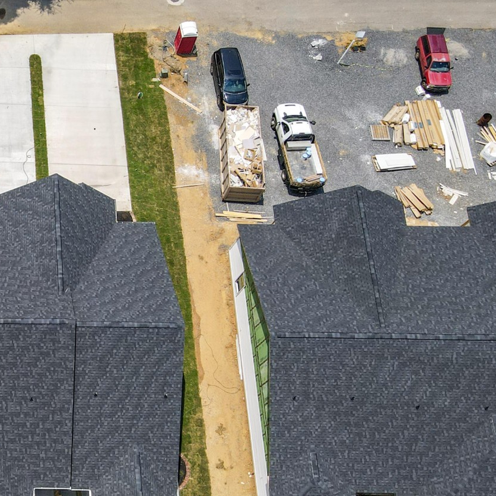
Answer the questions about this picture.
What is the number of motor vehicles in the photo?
3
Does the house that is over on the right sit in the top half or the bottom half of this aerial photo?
bottom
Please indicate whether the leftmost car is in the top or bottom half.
top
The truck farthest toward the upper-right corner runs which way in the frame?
vertically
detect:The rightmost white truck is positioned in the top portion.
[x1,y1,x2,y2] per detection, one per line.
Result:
[268,101,325,191]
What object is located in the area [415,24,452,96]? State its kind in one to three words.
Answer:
truck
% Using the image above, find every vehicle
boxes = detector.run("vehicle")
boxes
[268,101,325,191]
[211,49,250,107]
[415,24,452,96]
